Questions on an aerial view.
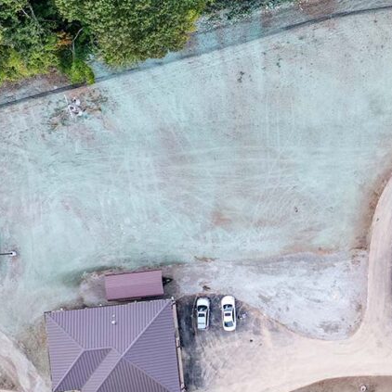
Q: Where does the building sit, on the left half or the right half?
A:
left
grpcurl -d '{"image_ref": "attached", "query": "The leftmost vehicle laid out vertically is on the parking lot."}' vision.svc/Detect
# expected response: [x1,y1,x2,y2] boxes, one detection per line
[194,298,209,332]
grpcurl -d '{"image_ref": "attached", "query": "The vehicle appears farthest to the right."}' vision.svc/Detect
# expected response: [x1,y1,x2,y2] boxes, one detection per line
[220,297,235,332]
